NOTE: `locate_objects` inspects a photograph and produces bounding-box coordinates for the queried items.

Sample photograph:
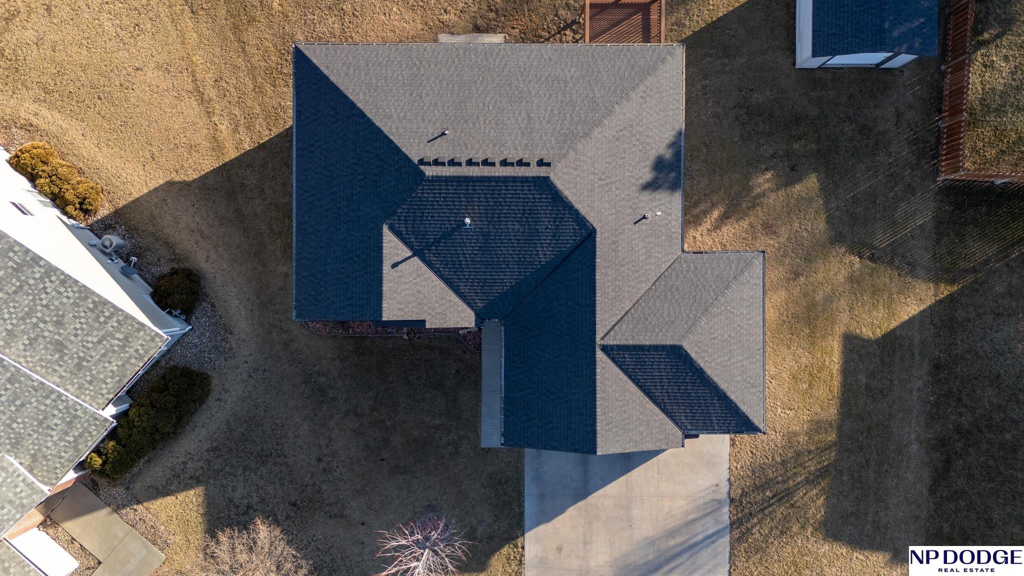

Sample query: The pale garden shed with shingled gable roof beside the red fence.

[793,0,938,70]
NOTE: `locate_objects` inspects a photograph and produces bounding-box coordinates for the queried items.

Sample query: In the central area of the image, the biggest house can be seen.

[292,44,765,456]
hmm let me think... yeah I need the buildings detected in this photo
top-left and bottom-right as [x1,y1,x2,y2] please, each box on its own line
[292,44,765,456]
[0,148,189,576]
[793,0,938,70]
